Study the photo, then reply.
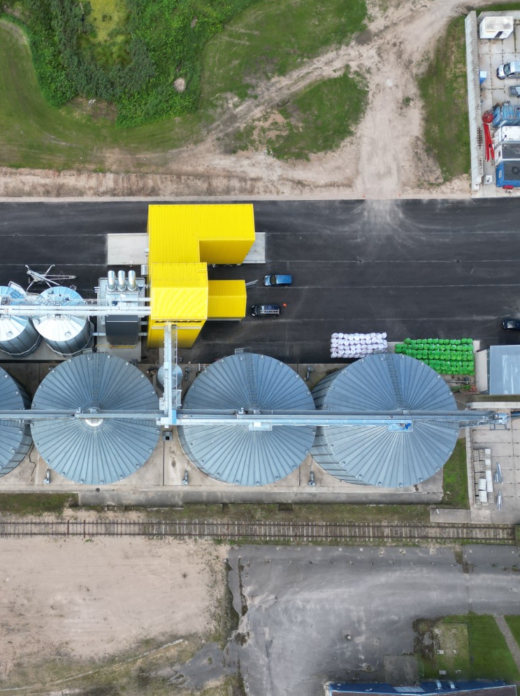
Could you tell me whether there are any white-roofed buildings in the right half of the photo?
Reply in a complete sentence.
Yes, you'll find a white-roofed building in the right half of the photo.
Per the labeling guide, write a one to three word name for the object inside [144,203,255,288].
building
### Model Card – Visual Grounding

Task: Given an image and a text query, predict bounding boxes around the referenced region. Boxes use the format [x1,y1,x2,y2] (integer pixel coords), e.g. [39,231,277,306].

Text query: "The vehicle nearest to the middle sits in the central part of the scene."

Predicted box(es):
[250,302,281,317]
